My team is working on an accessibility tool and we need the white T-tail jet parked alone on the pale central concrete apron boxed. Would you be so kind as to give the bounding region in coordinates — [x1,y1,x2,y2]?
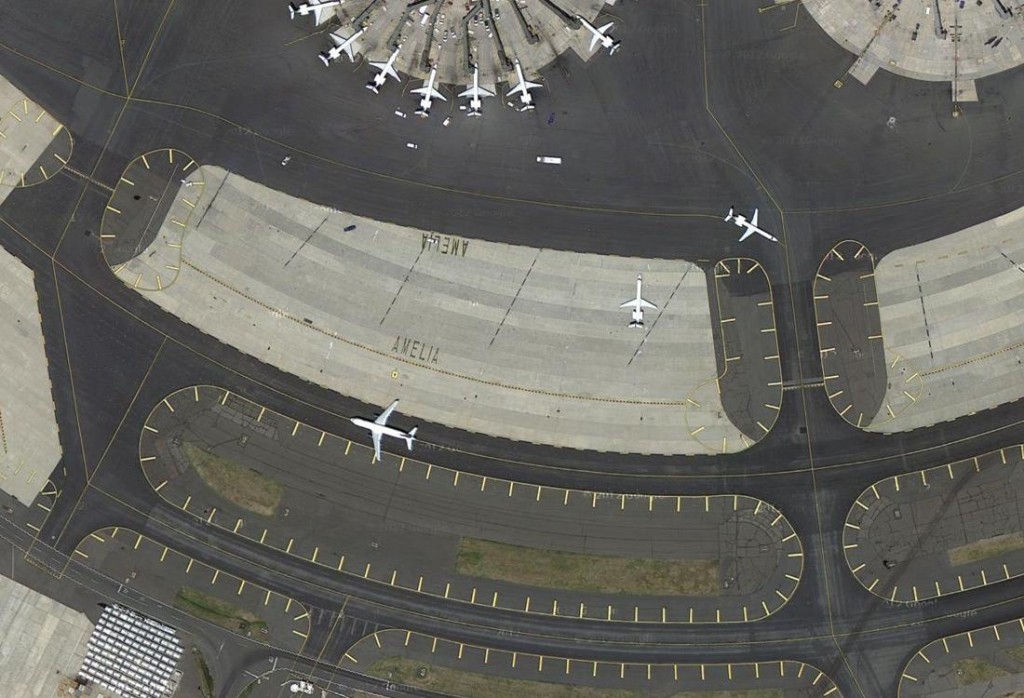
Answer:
[619,274,656,328]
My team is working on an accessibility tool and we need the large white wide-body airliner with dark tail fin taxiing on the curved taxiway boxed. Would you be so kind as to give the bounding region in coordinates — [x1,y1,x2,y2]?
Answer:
[351,400,419,460]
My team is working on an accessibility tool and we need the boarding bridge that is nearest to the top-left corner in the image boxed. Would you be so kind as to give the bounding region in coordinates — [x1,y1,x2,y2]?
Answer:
[354,0,380,28]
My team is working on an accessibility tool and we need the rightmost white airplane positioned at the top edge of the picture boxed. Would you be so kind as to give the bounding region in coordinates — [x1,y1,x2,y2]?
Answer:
[577,16,622,56]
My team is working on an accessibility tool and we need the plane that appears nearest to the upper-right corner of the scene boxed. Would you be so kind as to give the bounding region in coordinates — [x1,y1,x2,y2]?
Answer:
[727,209,777,243]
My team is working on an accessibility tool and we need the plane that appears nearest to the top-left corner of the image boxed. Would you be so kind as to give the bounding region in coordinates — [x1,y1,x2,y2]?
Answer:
[290,0,344,27]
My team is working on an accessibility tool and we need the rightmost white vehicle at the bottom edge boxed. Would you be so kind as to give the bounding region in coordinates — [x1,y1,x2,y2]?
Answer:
[299,682,315,694]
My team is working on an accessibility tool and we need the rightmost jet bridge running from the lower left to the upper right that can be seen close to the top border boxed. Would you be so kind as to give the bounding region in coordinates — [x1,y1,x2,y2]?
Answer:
[388,0,438,50]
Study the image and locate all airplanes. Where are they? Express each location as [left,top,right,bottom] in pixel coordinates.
[290,0,344,27]
[506,59,543,113]
[319,29,367,66]
[577,16,622,56]
[351,400,419,460]
[366,46,402,94]
[457,64,495,117]
[727,209,777,243]
[619,274,656,328]
[410,65,446,118]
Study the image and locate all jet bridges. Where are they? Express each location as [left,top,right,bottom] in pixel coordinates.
[934,0,947,38]
[484,0,513,70]
[388,0,438,50]
[541,0,581,28]
[421,0,444,70]
[510,0,539,43]
[993,0,1010,16]
[354,0,380,28]
[462,0,484,70]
